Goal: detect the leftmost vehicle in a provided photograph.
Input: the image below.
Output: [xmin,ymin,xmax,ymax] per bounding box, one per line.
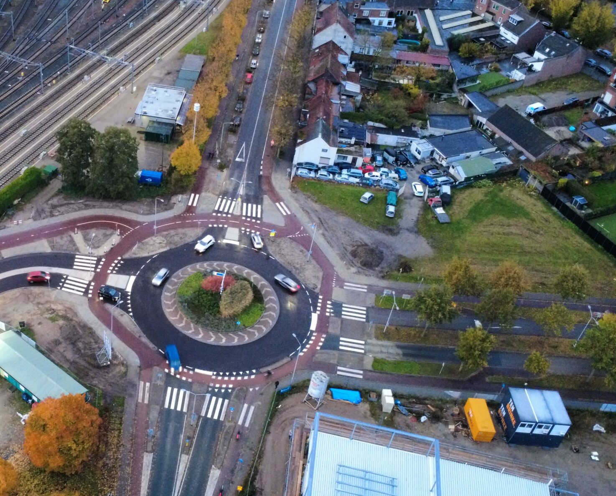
[27,270,51,283]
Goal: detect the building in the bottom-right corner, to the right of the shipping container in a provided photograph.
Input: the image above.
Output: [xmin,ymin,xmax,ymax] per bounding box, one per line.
[495,388,571,449]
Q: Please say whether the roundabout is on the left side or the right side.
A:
left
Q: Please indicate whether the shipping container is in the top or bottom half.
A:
bottom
